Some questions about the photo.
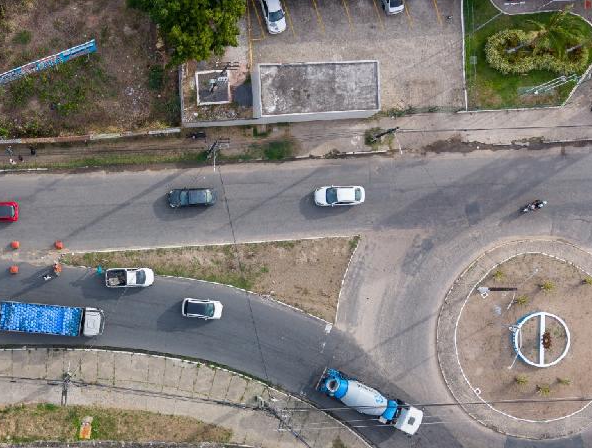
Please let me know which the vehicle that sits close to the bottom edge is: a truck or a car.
truck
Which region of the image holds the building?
top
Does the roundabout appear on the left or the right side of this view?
right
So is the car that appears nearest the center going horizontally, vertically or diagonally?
horizontally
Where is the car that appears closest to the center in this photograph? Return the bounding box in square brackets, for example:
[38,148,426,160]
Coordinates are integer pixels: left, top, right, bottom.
[313,184,364,207]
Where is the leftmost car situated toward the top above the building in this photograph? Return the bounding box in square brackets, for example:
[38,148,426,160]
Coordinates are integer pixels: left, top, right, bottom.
[260,0,287,35]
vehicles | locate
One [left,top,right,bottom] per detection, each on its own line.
[0,301,109,339]
[313,184,364,207]
[314,366,422,438]
[106,266,153,289]
[260,0,287,35]
[182,298,222,320]
[383,0,405,16]
[167,185,214,208]
[188,131,207,138]
[522,202,545,212]
[0,202,19,222]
